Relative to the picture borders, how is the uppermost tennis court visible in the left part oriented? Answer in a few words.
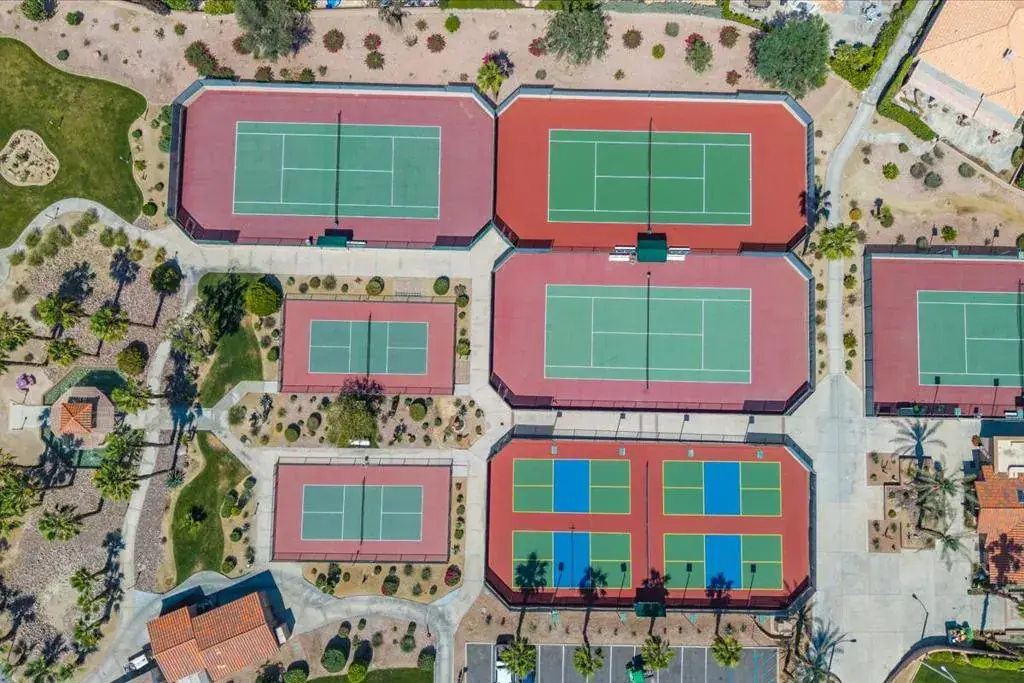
horizontally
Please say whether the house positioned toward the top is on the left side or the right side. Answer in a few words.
right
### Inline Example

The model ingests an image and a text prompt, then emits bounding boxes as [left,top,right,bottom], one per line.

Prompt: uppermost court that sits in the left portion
[180,88,494,249]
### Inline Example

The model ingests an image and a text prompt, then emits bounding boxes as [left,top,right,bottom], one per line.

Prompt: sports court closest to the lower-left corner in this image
[273,465,451,562]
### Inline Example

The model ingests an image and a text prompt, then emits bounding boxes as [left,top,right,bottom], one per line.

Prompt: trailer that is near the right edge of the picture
[946,620,977,644]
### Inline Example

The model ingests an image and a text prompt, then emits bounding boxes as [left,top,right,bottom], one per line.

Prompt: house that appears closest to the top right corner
[898,0,1024,136]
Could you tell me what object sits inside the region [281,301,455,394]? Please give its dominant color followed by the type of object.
pink sports court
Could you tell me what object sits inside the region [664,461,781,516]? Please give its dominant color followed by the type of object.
green sports court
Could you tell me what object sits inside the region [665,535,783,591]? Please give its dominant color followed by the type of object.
green sports court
